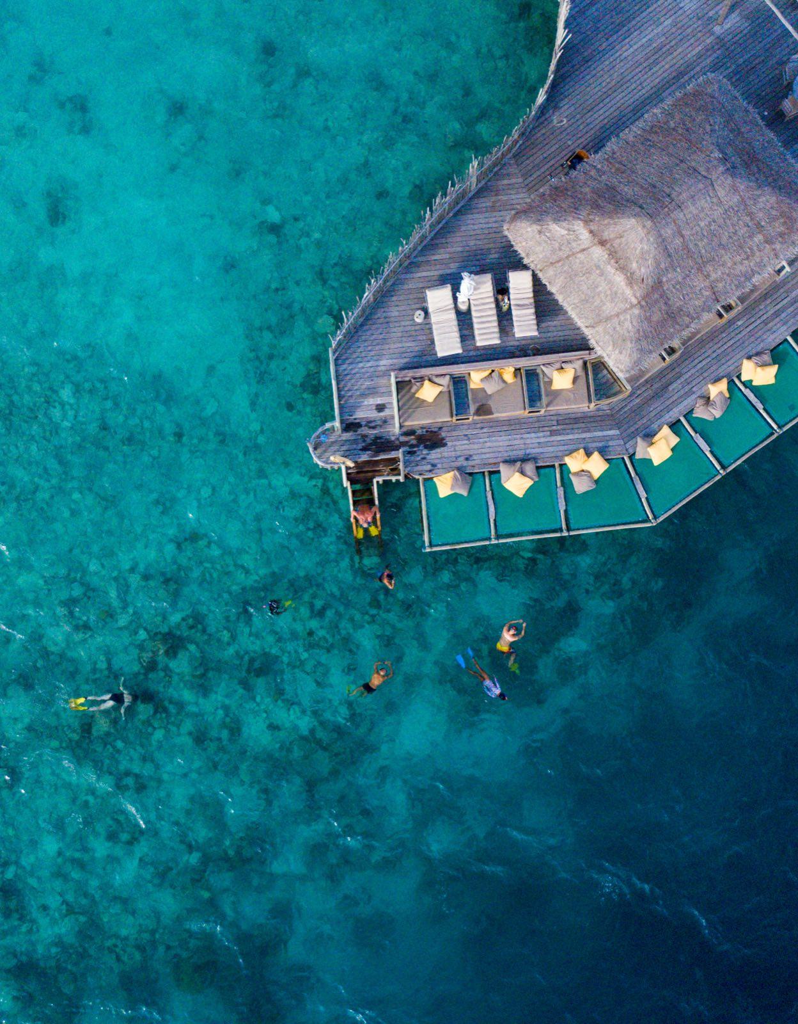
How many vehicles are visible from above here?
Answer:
zero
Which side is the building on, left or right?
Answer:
right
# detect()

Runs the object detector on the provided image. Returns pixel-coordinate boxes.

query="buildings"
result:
[502,80,798,384]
